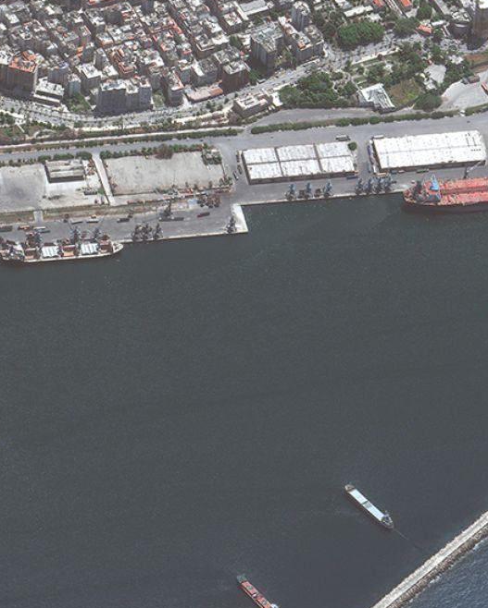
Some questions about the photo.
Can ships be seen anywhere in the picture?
Yes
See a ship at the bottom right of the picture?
Yes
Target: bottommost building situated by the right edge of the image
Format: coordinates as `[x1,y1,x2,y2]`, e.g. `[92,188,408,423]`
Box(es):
[373,130,485,173]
